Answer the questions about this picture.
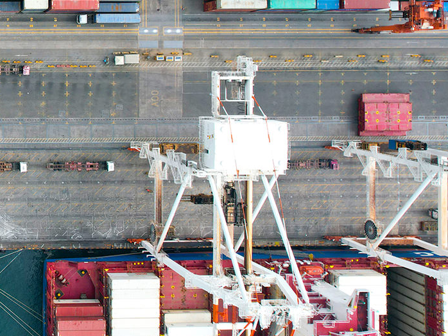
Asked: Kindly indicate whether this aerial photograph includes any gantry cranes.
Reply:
Yes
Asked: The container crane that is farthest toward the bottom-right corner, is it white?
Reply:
Yes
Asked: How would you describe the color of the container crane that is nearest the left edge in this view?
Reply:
white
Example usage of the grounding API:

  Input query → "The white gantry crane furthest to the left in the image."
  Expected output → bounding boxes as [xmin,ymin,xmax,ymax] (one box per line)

[125,53,317,336]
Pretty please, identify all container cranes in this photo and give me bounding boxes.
[324,143,448,288]
[125,53,317,336]
[361,0,448,38]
